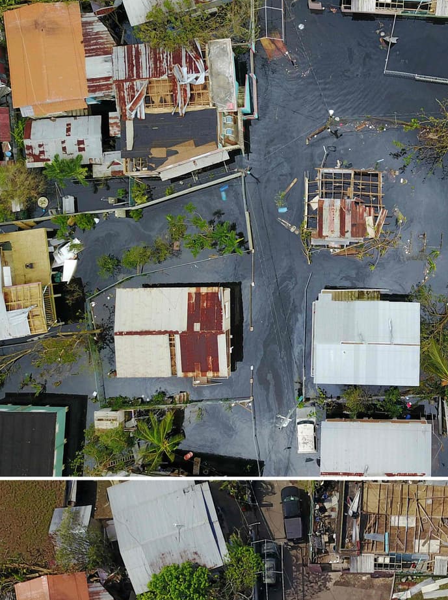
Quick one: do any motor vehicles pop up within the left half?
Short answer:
No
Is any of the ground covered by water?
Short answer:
Yes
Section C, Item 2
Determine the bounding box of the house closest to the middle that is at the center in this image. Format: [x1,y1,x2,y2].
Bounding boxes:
[115,286,238,378]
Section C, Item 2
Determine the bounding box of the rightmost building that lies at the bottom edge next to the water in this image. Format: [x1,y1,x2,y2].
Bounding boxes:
[331,480,448,575]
